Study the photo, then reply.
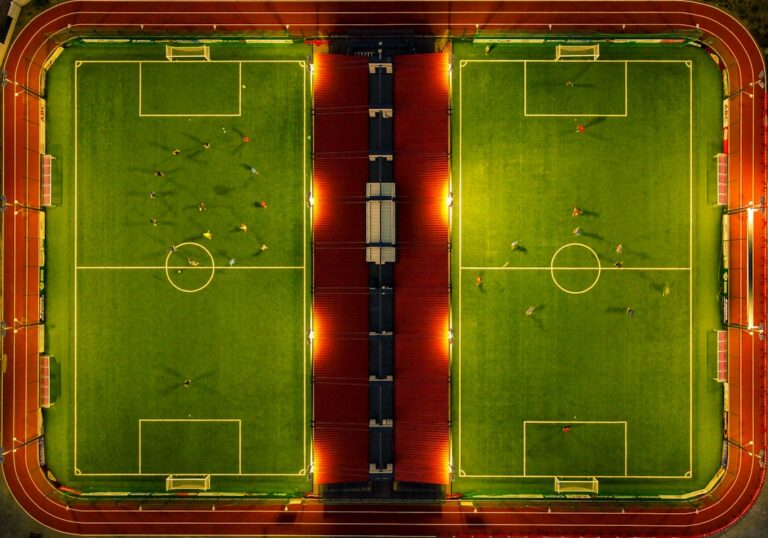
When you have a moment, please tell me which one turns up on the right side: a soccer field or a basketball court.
soccer field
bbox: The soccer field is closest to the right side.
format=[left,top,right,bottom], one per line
[451,38,723,498]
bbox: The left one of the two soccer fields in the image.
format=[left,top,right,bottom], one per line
[44,38,313,498]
